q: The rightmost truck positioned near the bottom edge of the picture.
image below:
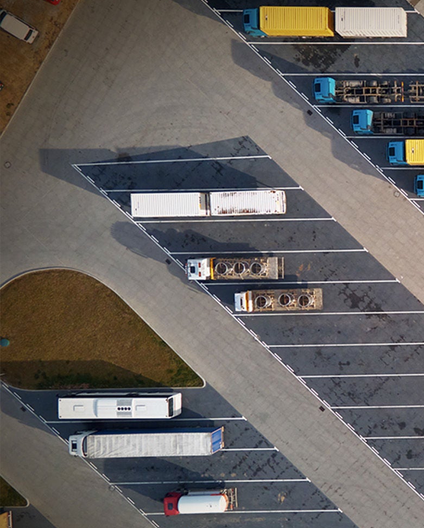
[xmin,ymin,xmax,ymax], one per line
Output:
[163,486,238,516]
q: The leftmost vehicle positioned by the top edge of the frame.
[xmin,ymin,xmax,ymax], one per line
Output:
[0,10,42,45]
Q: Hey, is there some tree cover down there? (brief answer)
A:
No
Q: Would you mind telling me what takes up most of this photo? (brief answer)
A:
paved ground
